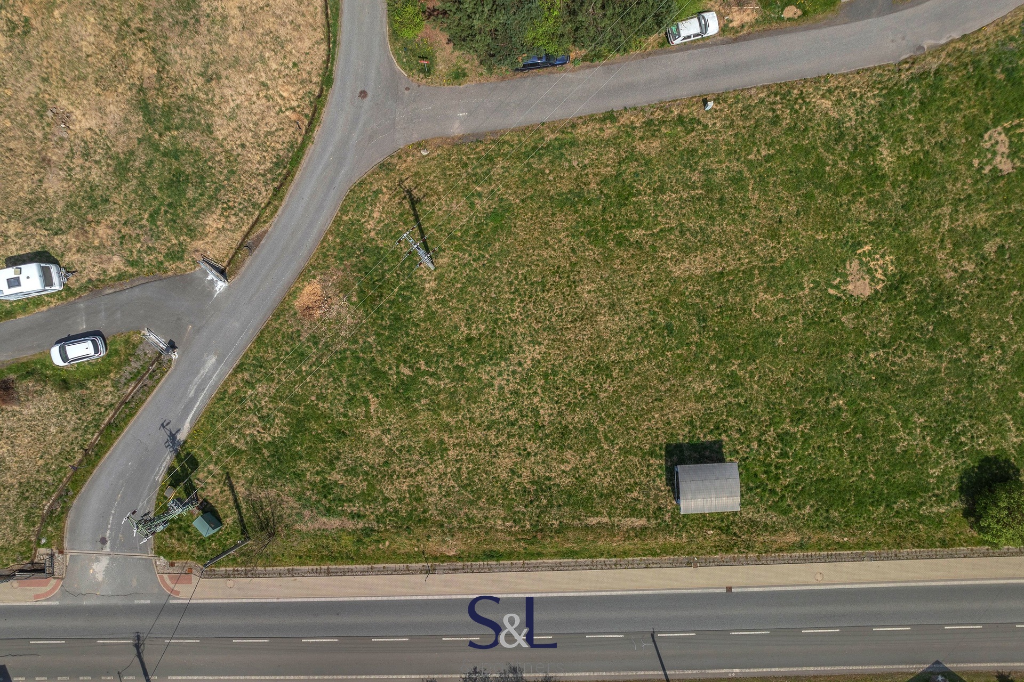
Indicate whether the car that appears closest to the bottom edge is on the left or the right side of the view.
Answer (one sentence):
The car that appears closest to the bottom edge sits on the left side.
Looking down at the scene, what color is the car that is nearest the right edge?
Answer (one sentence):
The car that is nearest the right edge is white.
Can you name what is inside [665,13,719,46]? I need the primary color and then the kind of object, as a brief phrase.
white car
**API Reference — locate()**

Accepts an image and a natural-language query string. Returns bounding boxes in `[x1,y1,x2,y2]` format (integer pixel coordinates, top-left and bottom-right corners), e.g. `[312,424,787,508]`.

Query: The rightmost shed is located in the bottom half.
[672,461,741,514]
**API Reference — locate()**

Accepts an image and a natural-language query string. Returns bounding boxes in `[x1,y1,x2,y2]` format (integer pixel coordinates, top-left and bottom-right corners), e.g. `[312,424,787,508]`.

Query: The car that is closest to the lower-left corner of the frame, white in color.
[52,333,112,366]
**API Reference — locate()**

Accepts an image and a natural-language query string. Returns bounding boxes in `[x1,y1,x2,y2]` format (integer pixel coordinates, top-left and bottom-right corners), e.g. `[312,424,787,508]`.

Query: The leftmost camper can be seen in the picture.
[0,263,80,302]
